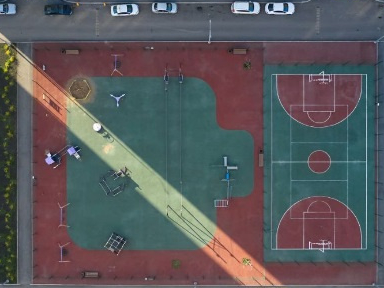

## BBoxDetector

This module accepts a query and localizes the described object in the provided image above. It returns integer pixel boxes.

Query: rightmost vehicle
[265,1,295,16]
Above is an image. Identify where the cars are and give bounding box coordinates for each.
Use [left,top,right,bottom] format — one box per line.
[152,1,177,14]
[45,3,73,17]
[265,1,295,16]
[0,2,18,16]
[231,1,260,15]
[111,3,140,17]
